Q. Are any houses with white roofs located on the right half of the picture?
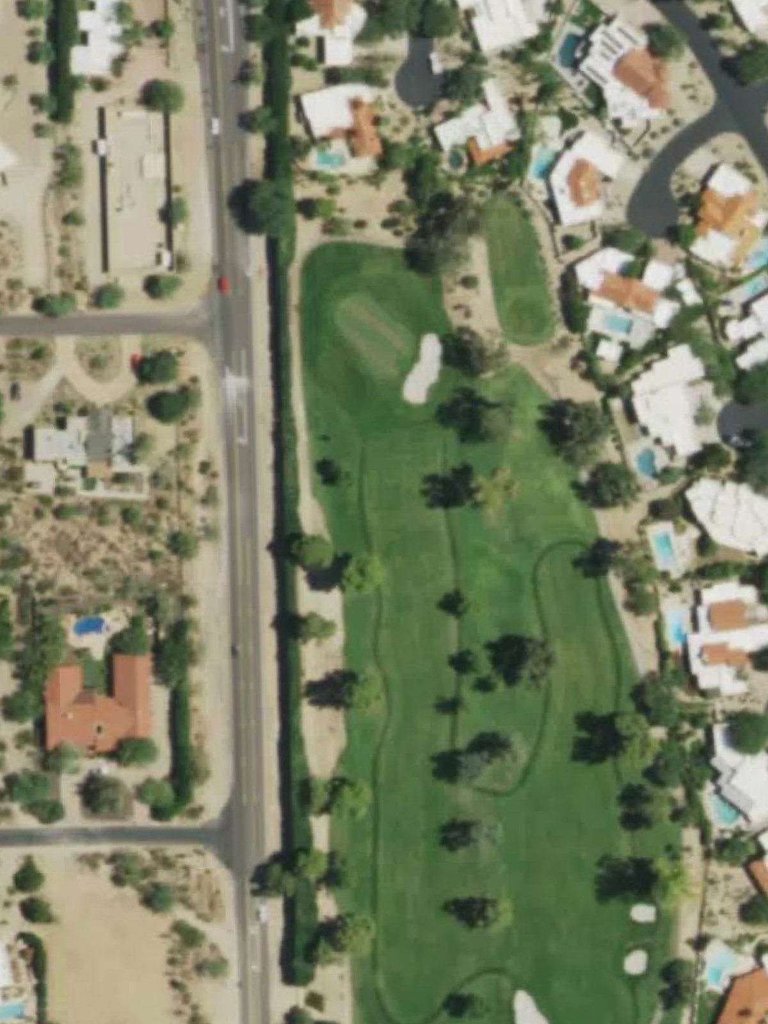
Yes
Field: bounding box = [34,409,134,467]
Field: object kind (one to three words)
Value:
house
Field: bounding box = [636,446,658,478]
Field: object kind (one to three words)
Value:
swimming pool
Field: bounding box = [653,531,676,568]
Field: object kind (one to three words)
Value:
swimming pool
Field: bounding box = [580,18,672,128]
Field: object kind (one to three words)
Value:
house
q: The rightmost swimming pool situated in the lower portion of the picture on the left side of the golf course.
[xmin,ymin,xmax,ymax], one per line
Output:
[73,615,106,637]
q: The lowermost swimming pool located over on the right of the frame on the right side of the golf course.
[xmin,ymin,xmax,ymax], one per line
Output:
[705,947,737,986]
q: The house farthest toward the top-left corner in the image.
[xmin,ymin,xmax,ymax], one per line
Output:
[73,0,125,73]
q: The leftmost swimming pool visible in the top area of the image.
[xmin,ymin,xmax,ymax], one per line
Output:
[316,152,344,166]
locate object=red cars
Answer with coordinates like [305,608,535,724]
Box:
[219,276,227,293]
[131,355,139,370]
